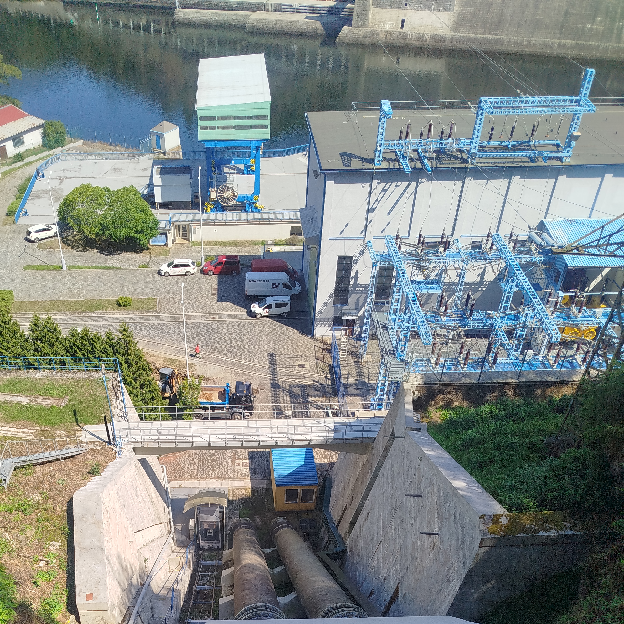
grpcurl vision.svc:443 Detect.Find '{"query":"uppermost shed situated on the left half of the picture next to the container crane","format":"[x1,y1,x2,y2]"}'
[151,119,183,156]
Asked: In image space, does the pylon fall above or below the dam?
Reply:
below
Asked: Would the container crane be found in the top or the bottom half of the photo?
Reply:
top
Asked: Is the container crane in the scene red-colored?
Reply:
No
